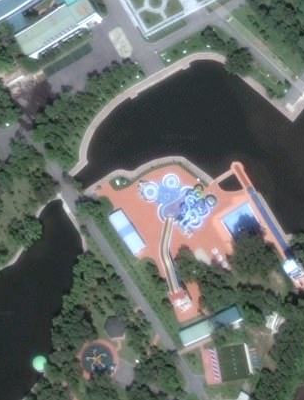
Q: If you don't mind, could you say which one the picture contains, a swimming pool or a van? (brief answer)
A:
swimming pool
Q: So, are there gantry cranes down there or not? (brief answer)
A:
No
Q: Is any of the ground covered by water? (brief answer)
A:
Yes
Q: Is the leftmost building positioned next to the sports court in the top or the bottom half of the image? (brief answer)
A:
bottom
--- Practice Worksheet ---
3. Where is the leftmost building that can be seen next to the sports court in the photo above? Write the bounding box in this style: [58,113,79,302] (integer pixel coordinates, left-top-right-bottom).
[180,318,213,346]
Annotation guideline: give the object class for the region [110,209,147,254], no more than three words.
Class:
building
